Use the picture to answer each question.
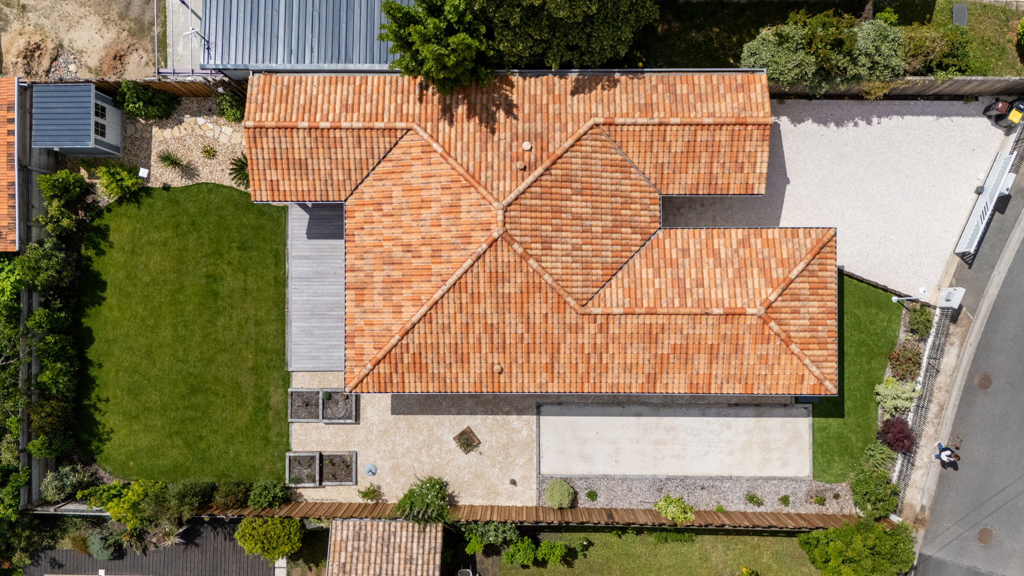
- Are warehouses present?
No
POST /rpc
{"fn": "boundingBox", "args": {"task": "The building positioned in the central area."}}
[242,65,838,396]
